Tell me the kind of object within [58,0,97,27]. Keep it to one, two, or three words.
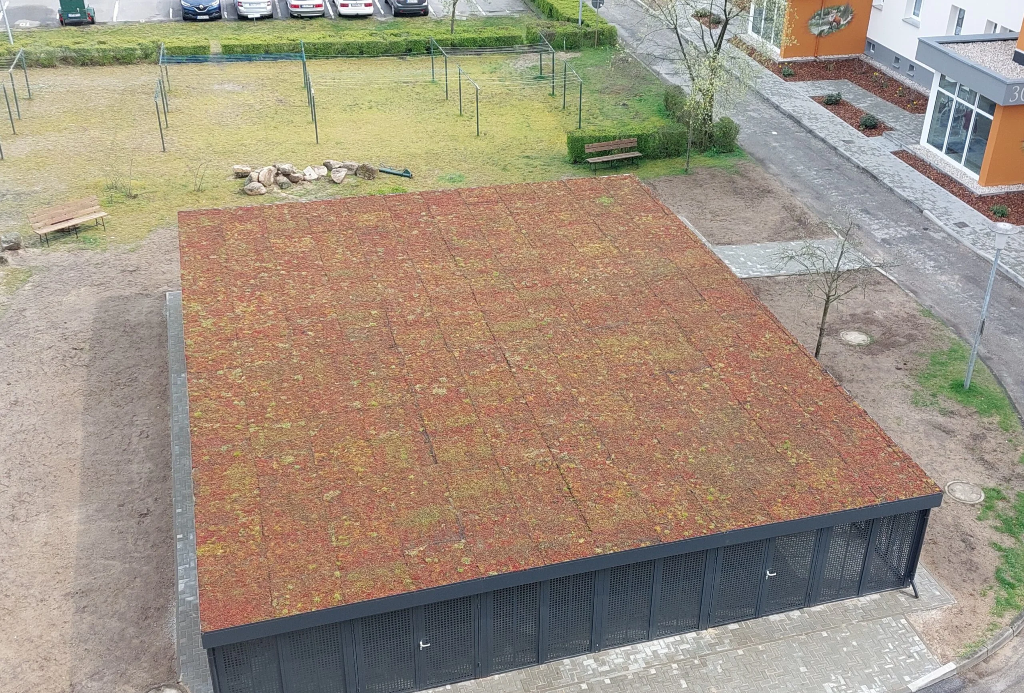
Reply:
trailer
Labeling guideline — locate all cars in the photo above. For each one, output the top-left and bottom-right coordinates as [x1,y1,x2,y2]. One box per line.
[181,0,223,19]
[285,0,326,17]
[384,0,430,16]
[234,0,276,18]
[331,0,376,15]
